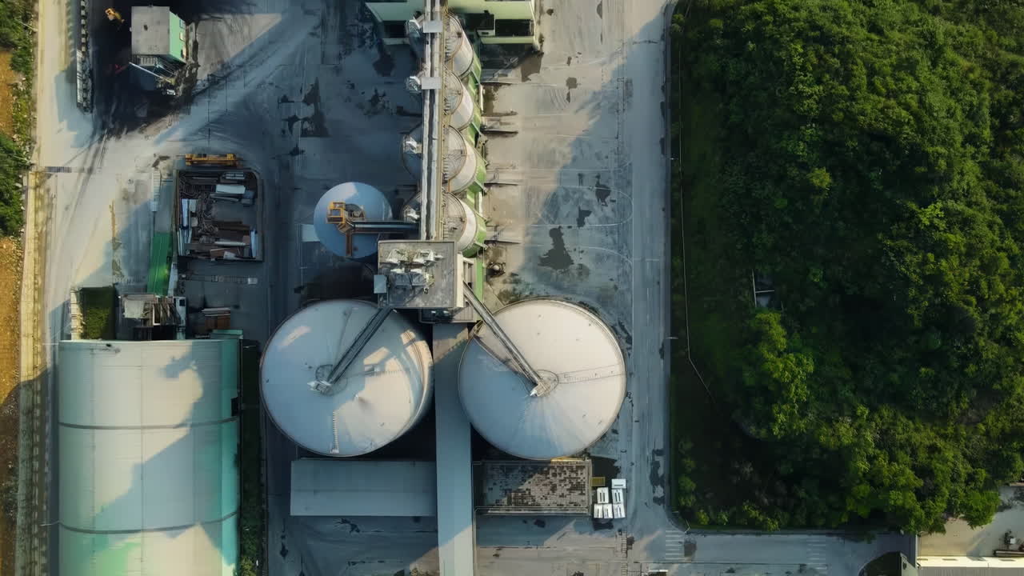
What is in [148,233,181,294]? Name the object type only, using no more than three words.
shed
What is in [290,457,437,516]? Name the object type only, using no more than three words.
building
